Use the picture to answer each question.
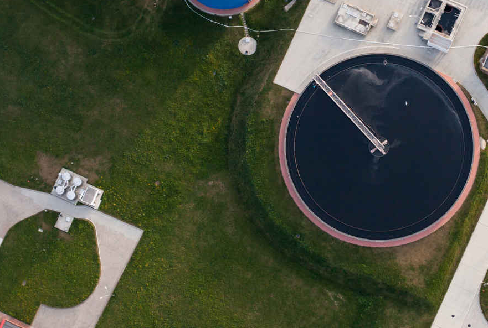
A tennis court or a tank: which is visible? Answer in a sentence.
I can see a tank in this picture.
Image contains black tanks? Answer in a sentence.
Yes, the photo shows a black tank.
